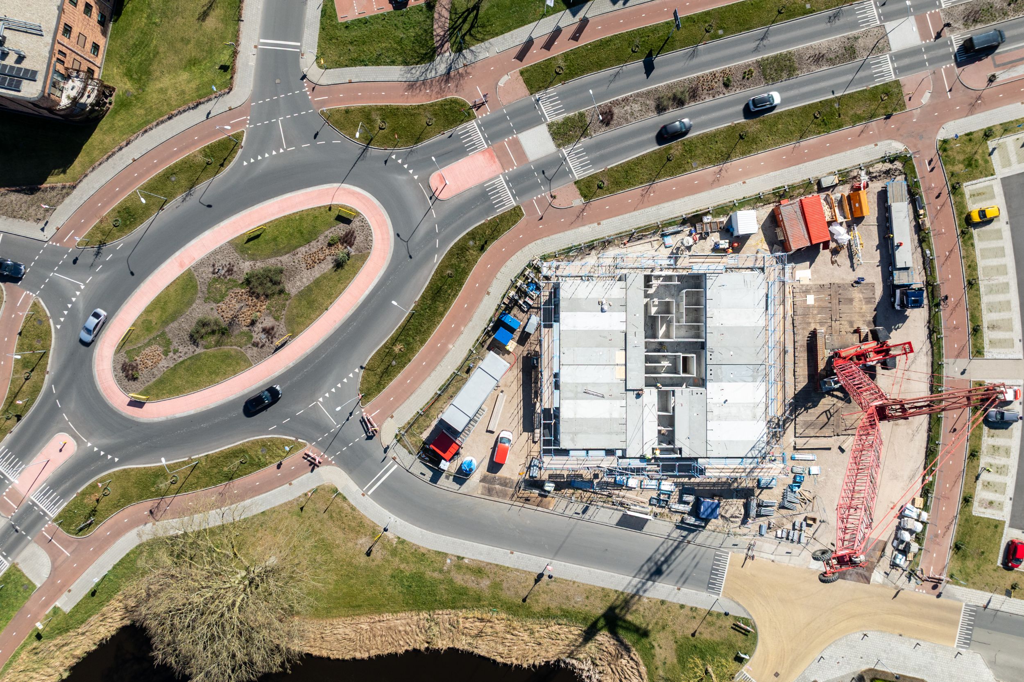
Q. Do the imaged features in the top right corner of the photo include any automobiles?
Yes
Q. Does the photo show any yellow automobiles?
Yes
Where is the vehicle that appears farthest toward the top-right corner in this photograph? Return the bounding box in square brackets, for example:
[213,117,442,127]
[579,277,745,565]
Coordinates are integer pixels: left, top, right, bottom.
[962,29,1004,54]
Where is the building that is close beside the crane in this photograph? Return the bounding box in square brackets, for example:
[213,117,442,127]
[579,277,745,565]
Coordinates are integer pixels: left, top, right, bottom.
[558,273,766,459]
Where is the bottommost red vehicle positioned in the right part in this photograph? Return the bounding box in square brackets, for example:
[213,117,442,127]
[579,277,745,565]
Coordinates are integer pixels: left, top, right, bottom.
[1003,537,1024,569]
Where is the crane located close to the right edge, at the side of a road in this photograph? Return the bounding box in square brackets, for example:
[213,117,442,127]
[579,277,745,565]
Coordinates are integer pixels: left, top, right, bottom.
[629,326,1017,591]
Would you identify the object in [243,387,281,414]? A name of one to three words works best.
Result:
car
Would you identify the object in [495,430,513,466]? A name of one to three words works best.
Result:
vehicle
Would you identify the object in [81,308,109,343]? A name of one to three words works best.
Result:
car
